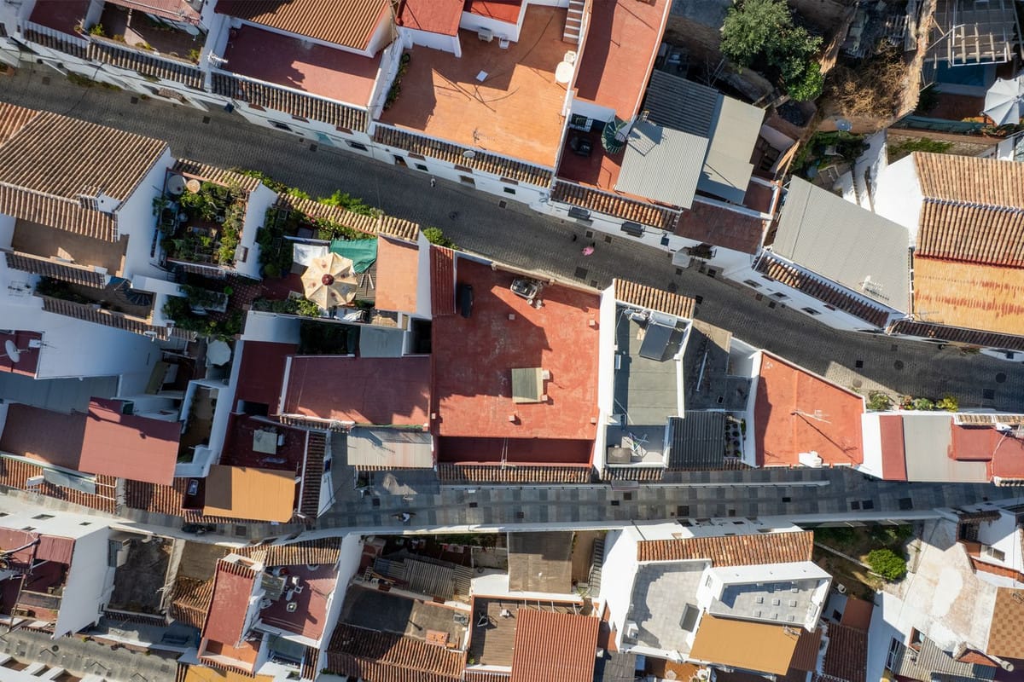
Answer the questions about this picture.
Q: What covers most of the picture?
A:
buildings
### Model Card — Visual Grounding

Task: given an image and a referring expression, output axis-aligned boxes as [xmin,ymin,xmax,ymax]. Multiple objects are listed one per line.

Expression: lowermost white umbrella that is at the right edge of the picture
[978,76,1024,136]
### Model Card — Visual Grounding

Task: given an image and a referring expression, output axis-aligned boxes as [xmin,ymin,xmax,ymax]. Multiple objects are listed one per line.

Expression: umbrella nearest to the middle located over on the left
[302,251,362,311]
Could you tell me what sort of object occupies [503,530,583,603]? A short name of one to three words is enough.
house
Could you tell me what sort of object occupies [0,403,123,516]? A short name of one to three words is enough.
house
